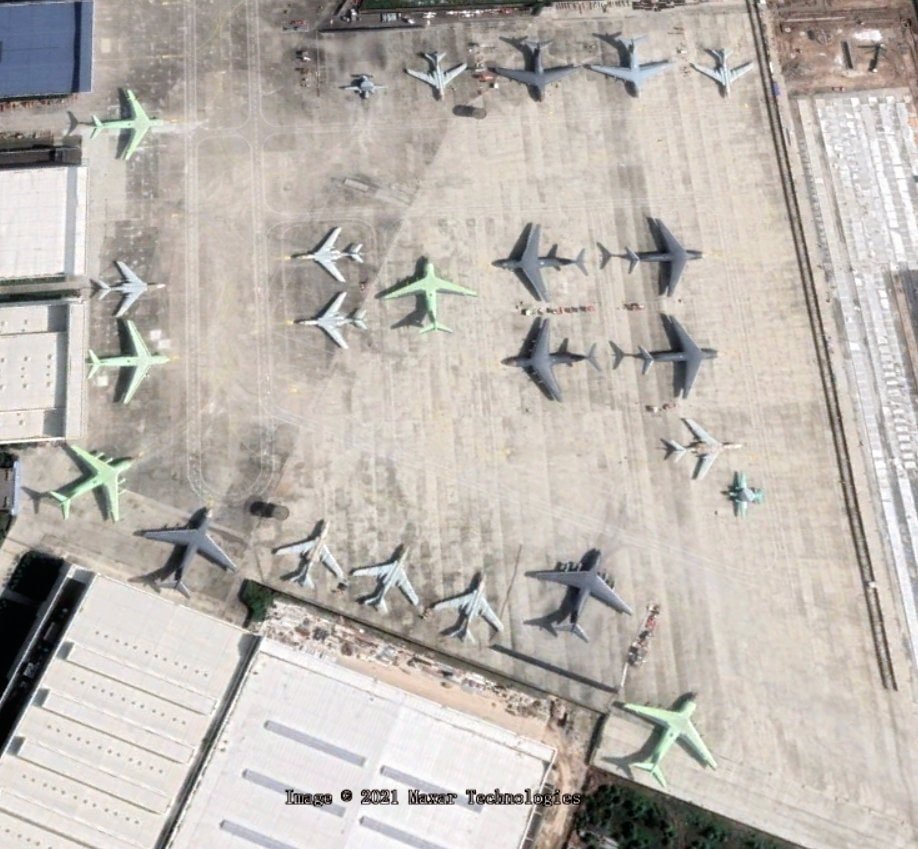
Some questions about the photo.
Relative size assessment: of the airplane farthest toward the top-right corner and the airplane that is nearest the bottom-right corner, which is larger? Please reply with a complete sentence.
The larger object is the airplane that is nearest the bottom-right corner, with the airplane farthest toward the top-right corner being the smaller of the pair.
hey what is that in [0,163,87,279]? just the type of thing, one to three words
hangar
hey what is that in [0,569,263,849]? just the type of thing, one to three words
building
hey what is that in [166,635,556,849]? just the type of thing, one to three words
building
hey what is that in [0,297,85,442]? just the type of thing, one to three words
hangar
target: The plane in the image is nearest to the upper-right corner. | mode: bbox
[693,48,753,98]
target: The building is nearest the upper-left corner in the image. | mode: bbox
[0,0,93,99]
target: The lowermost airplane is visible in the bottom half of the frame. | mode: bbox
[624,698,717,790]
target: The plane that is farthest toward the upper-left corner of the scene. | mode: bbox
[90,90,167,159]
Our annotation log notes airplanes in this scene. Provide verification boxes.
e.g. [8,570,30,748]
[624,698,717,790]
[693,48,753,98]
[534,554,632,644]
[407,51,466,100]
[296,228,364,282]
[498,224,590,301]
[730,473,766,518]
[143,512,236,600]
[590,34,676,94]
[275,522,343,589]
[495,38,580,99]
[637,316,721,398]
[383,260,477,334]
[624,219,705,296]
[299,292,368,348]
[671,419,742,480]
[508,318,602,401]
[351,547,418,614]
[433,574,504,645]
[90,90,167,159]
[95,262,164,316]
[344,74,388,97]
[85,320,170,403]
[48,446,134,523]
